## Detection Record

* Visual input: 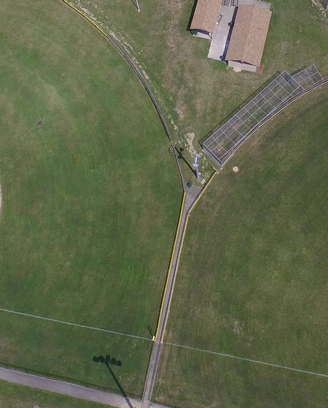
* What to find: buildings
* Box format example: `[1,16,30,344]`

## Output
[190,0,223,39]
[226,5,270,70]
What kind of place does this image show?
sports ground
